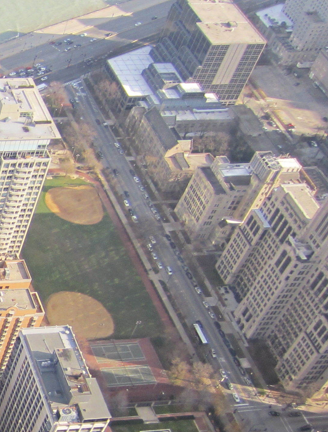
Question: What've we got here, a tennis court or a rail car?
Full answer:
The image shows a tennis court.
